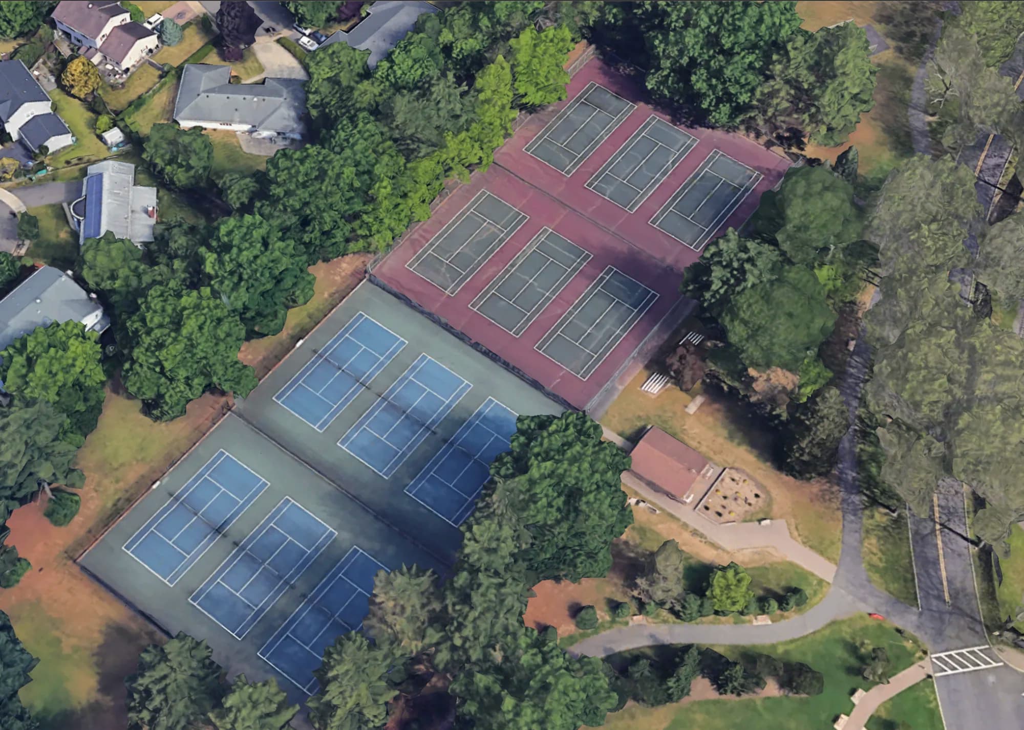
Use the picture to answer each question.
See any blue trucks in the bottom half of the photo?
No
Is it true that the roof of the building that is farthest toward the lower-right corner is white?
No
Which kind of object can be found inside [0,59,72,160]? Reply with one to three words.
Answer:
house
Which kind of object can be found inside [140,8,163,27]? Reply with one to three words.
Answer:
car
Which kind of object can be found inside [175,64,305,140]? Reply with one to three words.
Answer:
house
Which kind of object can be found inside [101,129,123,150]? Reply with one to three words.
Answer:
shed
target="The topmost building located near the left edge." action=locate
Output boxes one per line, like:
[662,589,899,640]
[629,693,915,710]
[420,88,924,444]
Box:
[51,0,160,73]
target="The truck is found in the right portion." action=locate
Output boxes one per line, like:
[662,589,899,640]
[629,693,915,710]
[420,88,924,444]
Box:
[628,491,662,515]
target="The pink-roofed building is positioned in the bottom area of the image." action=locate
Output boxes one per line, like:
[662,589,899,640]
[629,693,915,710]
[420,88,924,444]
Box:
[628,426,710,495]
